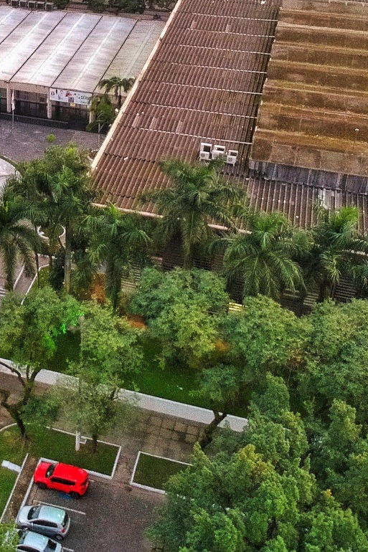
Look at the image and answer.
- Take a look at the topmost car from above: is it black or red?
red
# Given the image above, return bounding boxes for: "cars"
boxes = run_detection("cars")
[6,533,69,552]
[34,461,91,499]
[16,503,72,541]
